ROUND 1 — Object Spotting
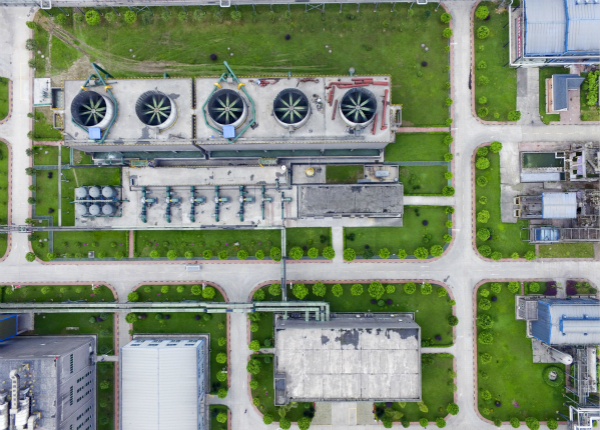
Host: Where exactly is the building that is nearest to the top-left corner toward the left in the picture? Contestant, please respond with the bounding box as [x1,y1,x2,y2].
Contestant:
[34,78,55,107]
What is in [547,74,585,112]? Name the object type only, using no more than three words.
house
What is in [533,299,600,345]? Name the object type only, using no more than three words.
building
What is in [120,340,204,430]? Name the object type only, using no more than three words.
building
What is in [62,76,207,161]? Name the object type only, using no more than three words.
cooling tower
